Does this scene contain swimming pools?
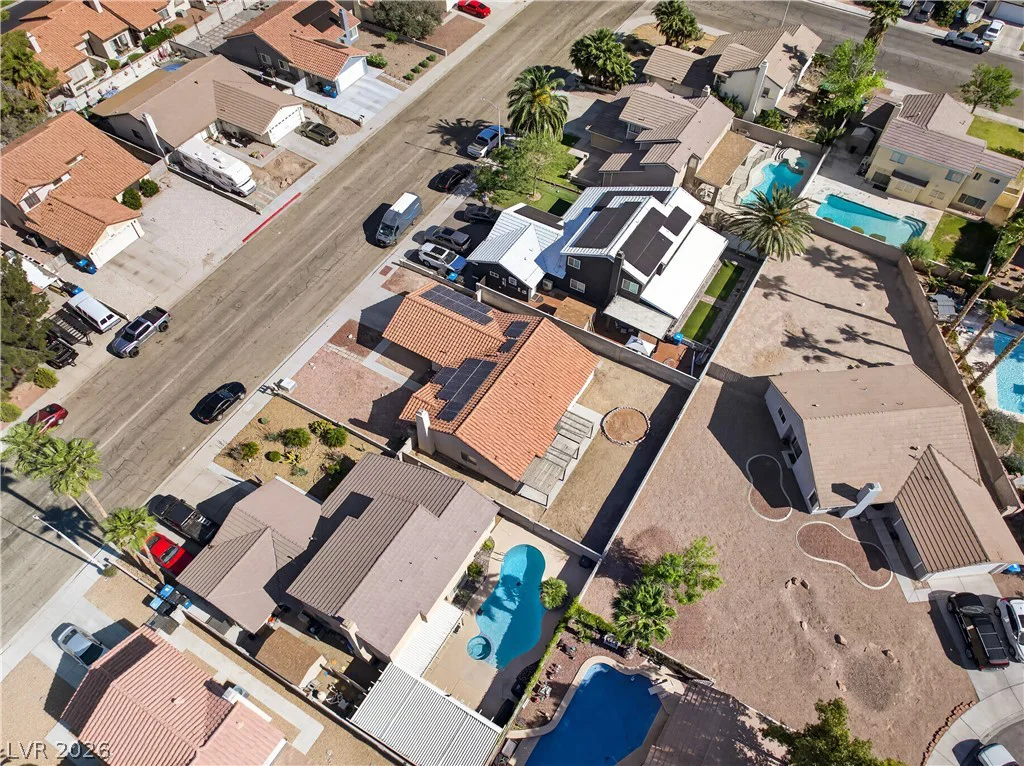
Yes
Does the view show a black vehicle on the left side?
Yes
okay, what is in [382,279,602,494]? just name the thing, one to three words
house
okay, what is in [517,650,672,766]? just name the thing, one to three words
swimming pool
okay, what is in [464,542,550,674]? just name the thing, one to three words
swimming pool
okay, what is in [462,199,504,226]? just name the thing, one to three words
car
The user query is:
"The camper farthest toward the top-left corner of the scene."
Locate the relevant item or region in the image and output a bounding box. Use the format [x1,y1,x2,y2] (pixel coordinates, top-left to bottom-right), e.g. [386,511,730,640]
[175,134,262,198]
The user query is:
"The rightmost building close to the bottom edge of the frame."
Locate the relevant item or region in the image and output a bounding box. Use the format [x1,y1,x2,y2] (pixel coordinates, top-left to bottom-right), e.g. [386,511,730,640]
[649,677,784,766]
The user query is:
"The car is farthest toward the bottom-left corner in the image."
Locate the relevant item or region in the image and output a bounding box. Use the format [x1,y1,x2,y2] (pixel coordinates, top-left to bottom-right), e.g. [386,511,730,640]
[47,621,111,675]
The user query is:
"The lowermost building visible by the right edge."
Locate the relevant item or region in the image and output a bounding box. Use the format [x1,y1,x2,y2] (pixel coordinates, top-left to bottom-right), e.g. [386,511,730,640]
[765,365,1024,585]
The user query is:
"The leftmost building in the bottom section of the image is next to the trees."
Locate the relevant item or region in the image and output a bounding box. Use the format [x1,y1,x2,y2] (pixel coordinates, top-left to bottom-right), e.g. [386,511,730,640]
[58,622,288,766]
